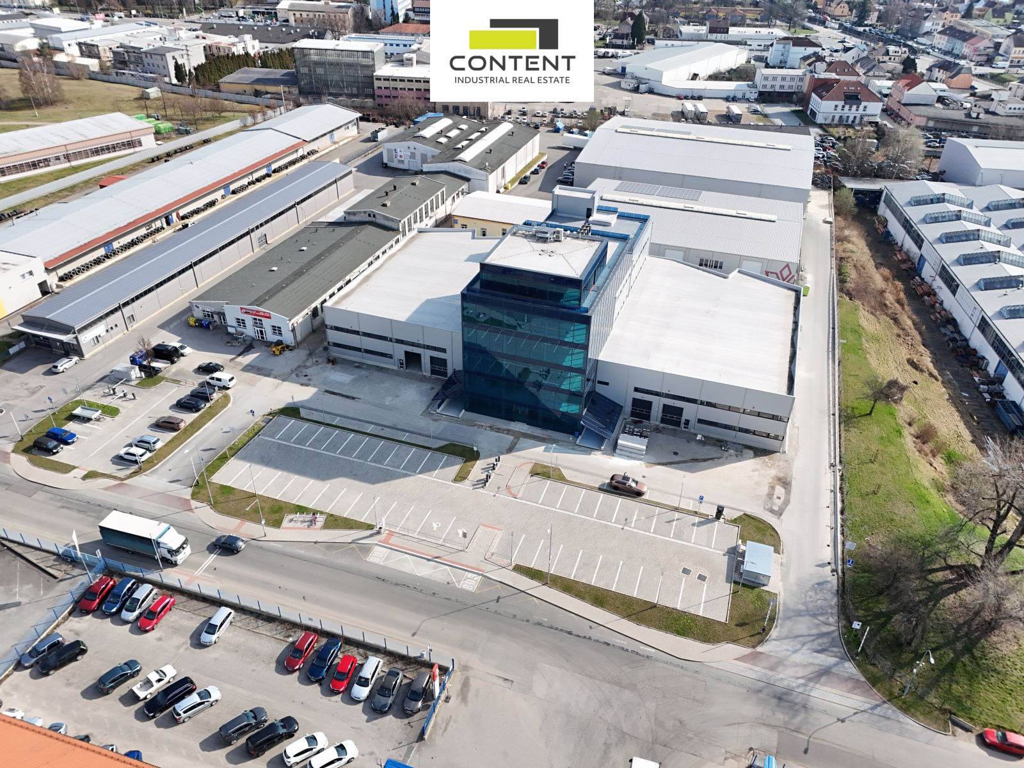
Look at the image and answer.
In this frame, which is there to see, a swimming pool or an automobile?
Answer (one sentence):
The image shows an automobile.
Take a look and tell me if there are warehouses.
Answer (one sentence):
Yes, a warehouse can be made out from above.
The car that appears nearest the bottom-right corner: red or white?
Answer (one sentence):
The car that appears nearest the bottom-right corner looks red in the image.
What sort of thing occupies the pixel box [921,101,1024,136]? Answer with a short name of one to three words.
building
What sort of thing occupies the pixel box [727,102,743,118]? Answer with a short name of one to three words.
vehicle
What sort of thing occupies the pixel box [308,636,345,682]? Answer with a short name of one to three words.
car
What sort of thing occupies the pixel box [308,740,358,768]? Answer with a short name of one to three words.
car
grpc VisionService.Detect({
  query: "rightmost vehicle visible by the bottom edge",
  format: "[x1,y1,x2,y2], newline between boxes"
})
[978,724,1024,766]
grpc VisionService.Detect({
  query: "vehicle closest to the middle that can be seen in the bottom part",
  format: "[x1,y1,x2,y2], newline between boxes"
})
[609,473,646,498]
